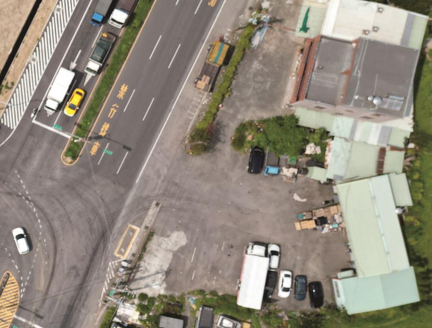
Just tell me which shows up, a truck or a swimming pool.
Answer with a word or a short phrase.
truck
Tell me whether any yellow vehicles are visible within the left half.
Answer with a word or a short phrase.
Yes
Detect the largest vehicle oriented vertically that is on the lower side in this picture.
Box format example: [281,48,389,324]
[238,241,267,309]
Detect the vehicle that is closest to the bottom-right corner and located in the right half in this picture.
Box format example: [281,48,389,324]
[310,281,325,308]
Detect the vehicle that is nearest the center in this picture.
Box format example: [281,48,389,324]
[248,146,264,174]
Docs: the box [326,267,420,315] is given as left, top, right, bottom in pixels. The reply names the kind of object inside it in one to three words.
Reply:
shed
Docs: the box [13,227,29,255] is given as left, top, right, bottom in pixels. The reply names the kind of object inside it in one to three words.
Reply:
car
